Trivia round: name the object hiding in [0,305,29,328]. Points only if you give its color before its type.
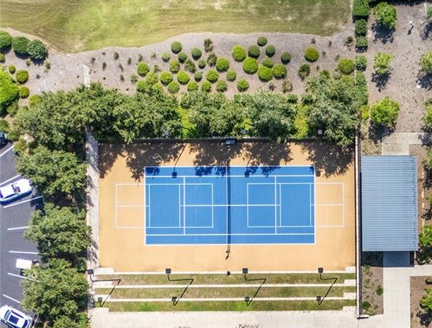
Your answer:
white car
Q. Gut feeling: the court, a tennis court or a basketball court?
tennis court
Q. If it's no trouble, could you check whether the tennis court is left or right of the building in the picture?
left of it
